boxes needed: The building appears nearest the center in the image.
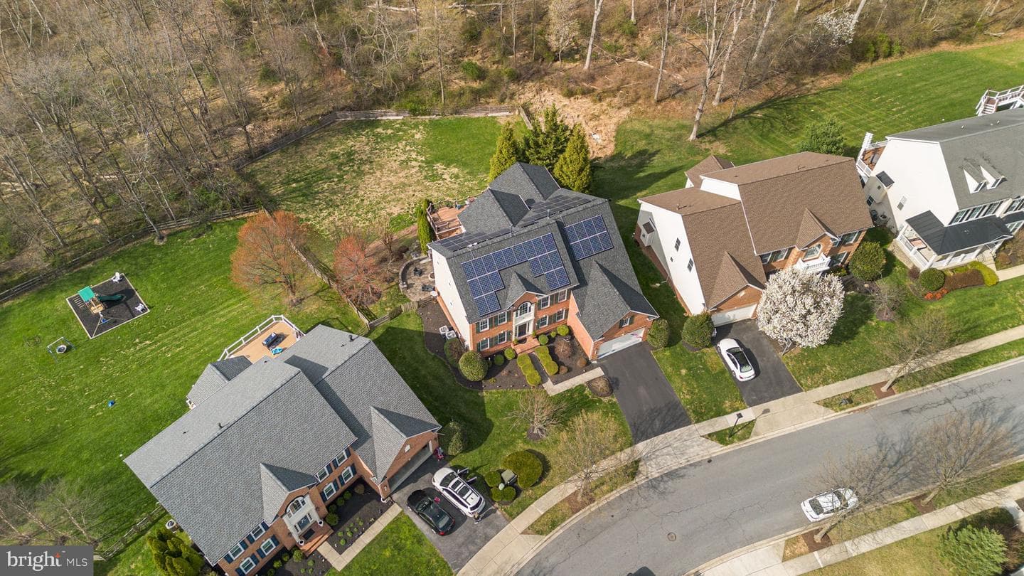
[427,165,659,361]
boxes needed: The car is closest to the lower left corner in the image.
[401,487,457,542]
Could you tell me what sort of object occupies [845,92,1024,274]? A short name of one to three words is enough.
house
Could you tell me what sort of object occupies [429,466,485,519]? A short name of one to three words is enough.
car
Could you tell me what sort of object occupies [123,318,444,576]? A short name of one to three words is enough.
house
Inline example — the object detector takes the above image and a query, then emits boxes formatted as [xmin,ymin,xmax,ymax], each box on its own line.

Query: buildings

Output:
[845,92,1024,274]
[427,165,659,361]
[632,153,873,331]
[123,318,444,576]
